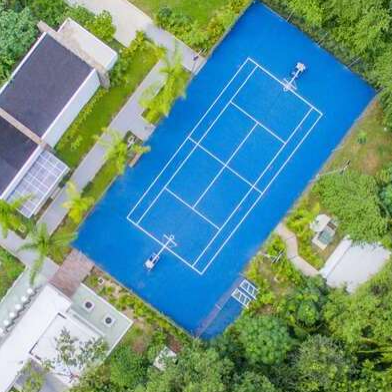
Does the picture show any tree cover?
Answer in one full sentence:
Yes, tree cover shows up in the scene.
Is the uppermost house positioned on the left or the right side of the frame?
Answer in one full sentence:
It is on the left.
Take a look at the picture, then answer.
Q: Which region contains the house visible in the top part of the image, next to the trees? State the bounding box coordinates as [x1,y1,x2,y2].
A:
[0,18,119,218]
